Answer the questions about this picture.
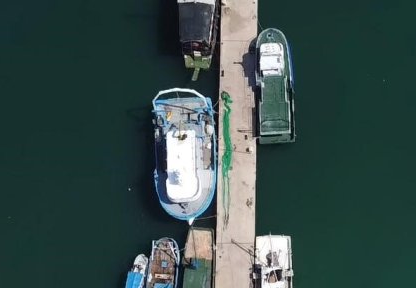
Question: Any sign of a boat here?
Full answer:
Yes, there's a boat down there.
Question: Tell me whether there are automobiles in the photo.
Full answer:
No, I can't see a single automobile in this photo.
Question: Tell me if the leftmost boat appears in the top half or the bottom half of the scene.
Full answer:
Seen from above, the leftmost boat lies in the bottom half of the view.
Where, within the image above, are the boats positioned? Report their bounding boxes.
[151,88,222,225]
[251,22,296,146]
[145,237,180,288]
[176,0,223,81]
[126,254,149,288]
[179,227,215,288]
[231,232,295,288]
